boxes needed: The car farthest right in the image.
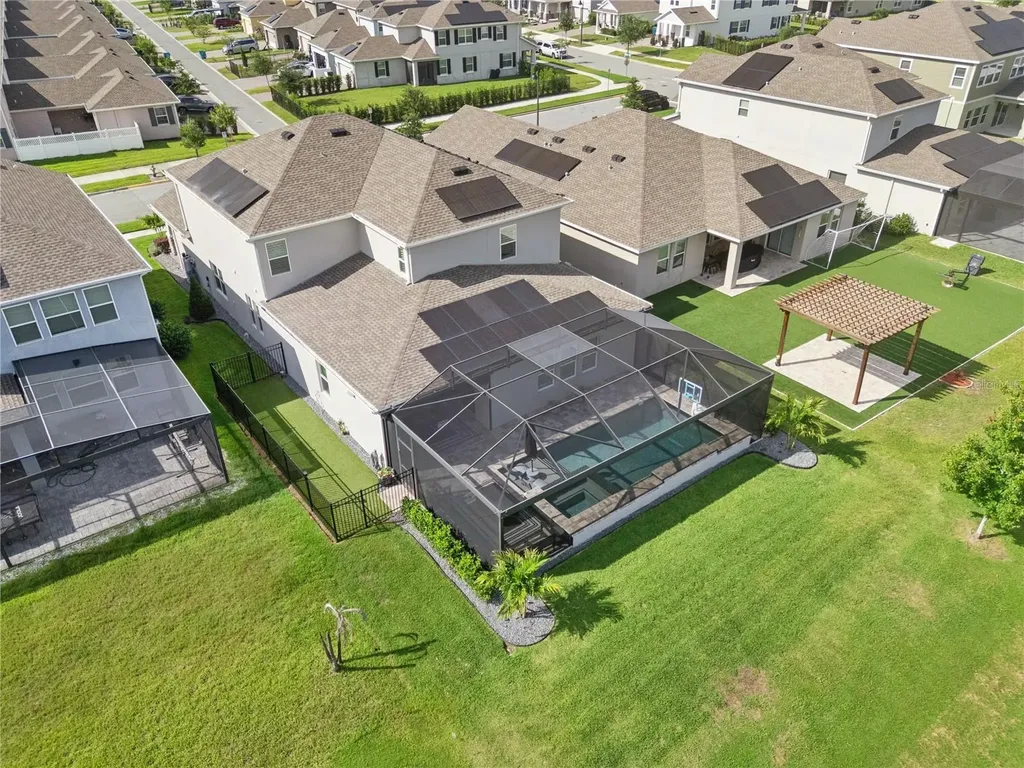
[636,89,675,110]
